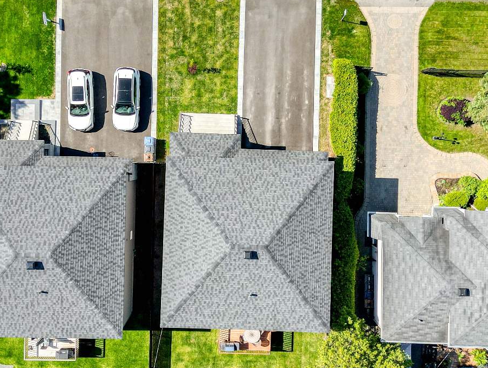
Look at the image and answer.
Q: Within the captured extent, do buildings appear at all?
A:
Yes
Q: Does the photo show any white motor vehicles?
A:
Yes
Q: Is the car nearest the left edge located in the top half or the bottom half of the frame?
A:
top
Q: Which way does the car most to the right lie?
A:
up and down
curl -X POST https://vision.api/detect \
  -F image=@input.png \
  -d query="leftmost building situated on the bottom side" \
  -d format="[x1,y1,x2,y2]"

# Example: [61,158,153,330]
[0,138,136,340]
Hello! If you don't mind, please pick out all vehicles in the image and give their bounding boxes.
[63,67,95,131]
[109,66,141,132]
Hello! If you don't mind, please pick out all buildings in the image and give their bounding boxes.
[366,208,488,348]
[159,131,336,333]
[0,138,136,340]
